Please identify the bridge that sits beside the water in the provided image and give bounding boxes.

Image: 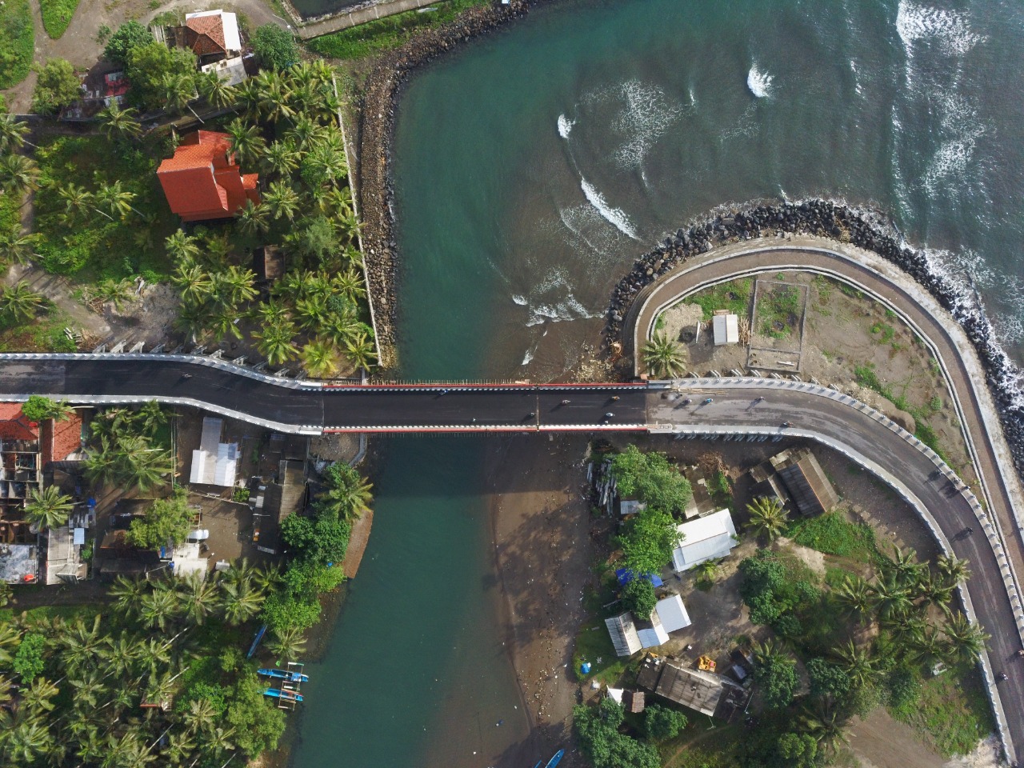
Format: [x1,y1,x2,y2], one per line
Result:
[321,379,647,438]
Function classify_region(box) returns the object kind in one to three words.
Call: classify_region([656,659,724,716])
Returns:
building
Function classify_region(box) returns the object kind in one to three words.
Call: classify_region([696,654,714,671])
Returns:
work vehicle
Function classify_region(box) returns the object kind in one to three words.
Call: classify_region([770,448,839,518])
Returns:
house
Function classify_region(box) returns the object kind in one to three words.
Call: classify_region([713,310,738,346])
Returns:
shed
